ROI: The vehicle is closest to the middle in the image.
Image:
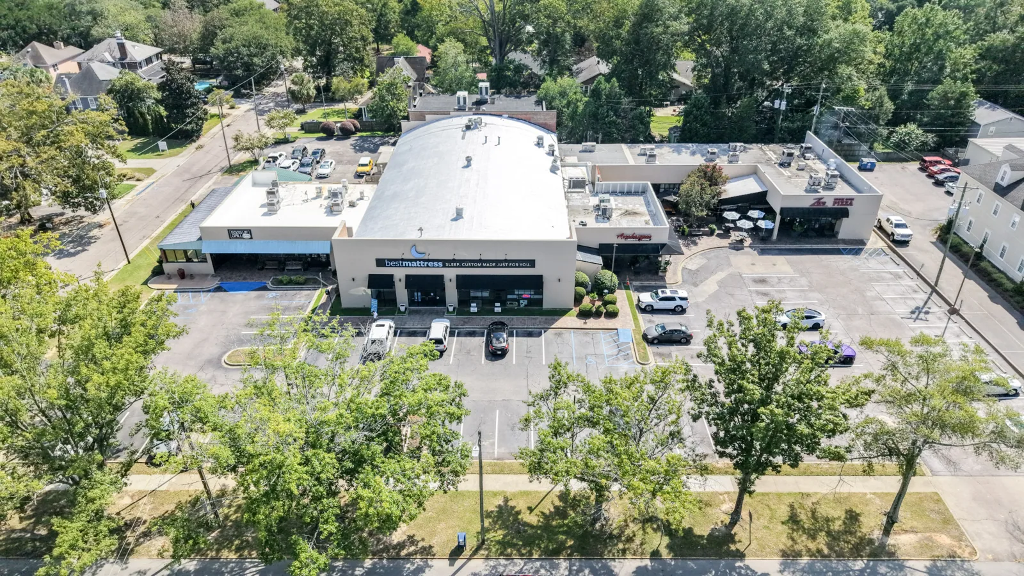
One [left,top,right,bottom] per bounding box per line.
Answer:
[485,323,509,357]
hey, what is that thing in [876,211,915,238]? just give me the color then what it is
white truck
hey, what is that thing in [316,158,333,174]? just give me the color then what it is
white car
